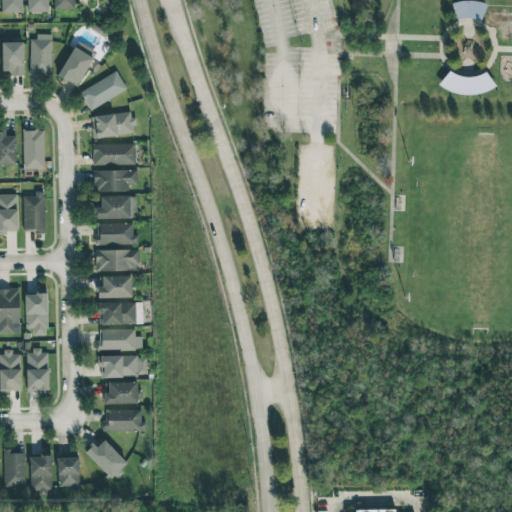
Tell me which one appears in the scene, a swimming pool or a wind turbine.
swimming pool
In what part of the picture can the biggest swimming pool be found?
top left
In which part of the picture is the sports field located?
right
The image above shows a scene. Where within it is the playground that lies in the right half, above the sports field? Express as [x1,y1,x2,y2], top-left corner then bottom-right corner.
[486,6,512,42]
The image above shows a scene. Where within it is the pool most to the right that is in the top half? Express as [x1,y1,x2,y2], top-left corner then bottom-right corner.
[74,26,109,61]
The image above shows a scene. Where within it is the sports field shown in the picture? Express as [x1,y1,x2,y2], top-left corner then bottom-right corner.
[402,121,512,338]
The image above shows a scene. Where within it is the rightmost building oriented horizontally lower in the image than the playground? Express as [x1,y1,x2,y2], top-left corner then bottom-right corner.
[440,70,499,94]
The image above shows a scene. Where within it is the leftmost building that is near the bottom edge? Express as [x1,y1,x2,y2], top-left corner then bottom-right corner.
[4,450,26,488]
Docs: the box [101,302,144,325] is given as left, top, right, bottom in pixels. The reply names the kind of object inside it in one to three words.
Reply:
house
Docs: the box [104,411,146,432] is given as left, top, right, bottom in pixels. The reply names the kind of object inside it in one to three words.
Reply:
house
